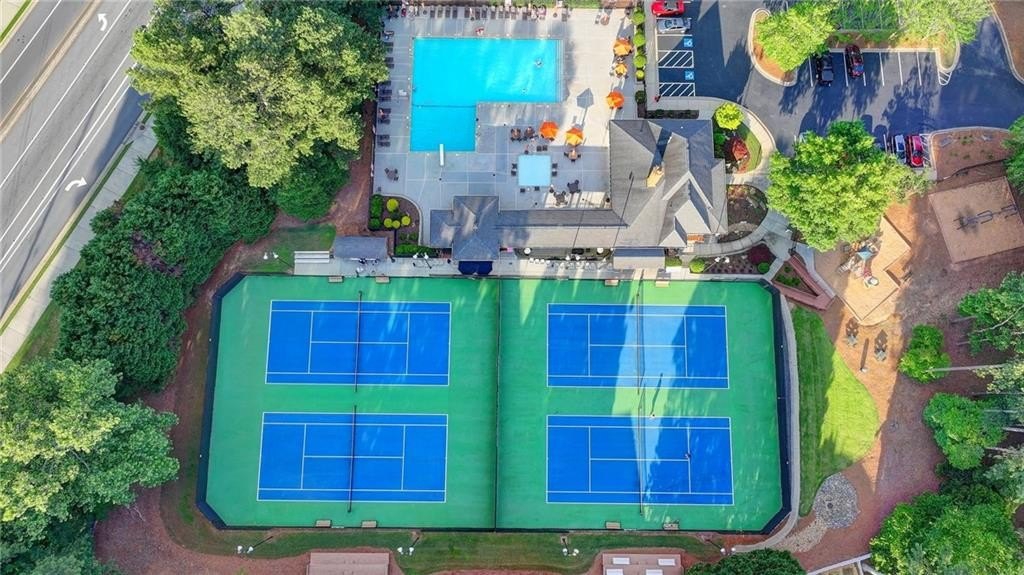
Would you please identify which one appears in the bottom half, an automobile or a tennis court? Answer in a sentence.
Looking in the bottom half, you will find a tennis court.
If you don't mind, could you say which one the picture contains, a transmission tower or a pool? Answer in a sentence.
Looking from above, you can make out a pool.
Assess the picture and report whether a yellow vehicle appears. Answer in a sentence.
No, there's no yellow vehicle here.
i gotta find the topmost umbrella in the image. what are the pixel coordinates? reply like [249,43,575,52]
[614,39,631,55]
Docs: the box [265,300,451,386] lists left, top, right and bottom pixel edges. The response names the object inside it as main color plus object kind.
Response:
blue tennis court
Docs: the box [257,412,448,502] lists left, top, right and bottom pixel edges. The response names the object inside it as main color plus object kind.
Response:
blue tennis court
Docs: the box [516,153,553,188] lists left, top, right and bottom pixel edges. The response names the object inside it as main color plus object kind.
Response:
blue swimming pool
